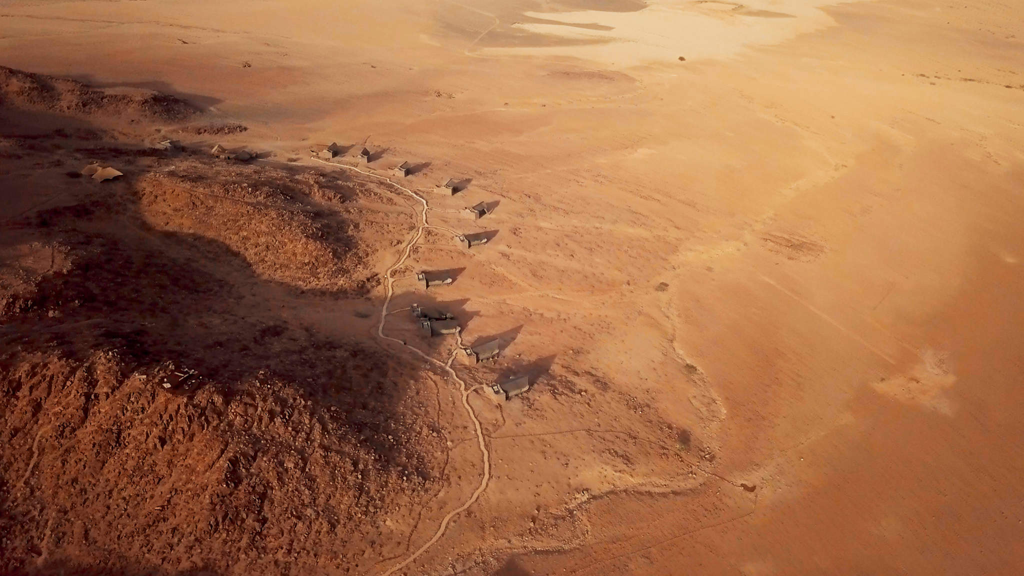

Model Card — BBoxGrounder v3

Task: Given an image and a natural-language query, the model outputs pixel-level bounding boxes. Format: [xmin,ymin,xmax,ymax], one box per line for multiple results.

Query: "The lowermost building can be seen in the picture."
[482,375,532,401]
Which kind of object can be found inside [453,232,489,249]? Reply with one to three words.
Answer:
house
